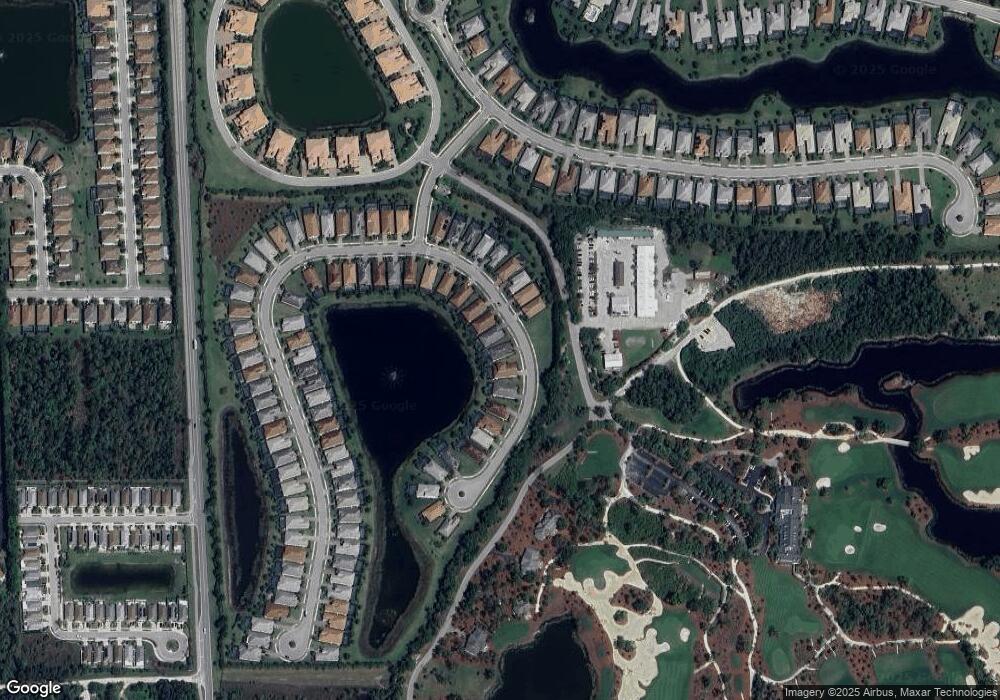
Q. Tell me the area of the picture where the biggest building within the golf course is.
bottom right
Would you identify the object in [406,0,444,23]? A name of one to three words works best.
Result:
roundabout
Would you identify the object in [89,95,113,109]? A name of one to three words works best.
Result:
house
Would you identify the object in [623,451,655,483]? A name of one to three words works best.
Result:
tennis court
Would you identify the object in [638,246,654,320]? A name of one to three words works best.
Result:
building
